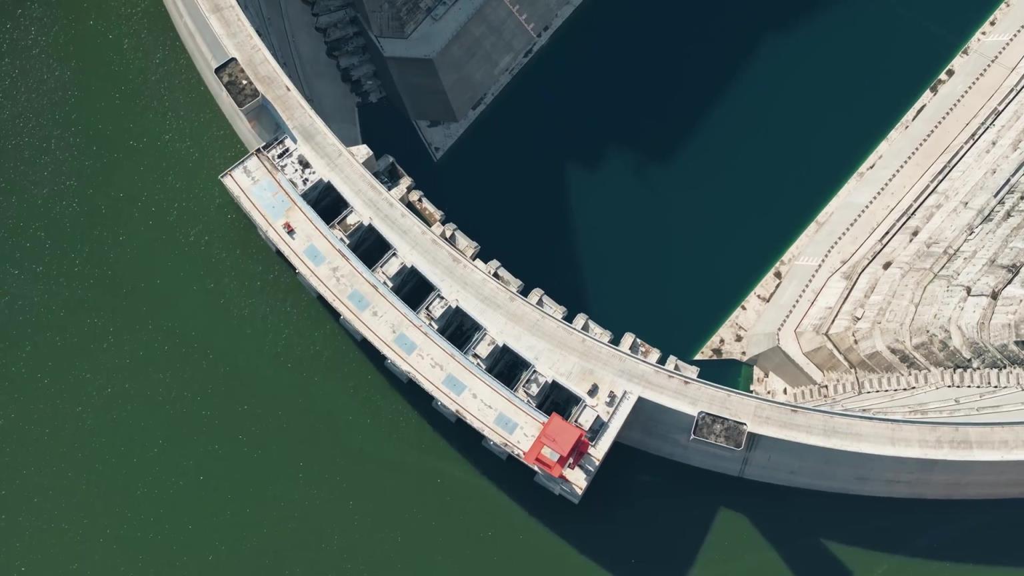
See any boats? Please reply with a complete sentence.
No, the picture doesn't show any boat.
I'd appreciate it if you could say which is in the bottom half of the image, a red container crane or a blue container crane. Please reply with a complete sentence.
The feature located in the bottom half of the image is a red container crane.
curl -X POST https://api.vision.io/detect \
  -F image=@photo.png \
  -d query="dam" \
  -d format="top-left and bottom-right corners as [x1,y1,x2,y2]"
[164,0,1024,507]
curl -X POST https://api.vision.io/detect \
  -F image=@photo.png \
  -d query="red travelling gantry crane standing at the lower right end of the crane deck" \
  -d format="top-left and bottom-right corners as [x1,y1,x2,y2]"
[523,411,592,477]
